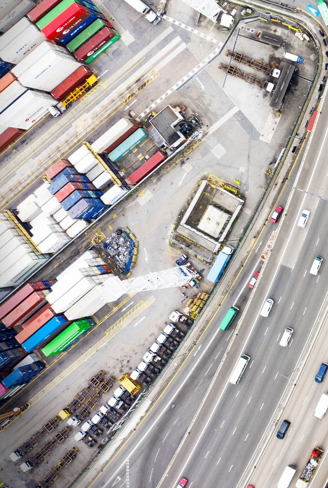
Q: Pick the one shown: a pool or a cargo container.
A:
cargo container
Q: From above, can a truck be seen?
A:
Yes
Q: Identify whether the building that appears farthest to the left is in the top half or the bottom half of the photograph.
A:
top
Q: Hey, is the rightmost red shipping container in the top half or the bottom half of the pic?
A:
top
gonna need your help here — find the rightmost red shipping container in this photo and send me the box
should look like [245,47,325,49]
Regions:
[128,151,169,186]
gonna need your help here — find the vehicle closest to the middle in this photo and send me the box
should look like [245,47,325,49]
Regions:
[175,251,190,269]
